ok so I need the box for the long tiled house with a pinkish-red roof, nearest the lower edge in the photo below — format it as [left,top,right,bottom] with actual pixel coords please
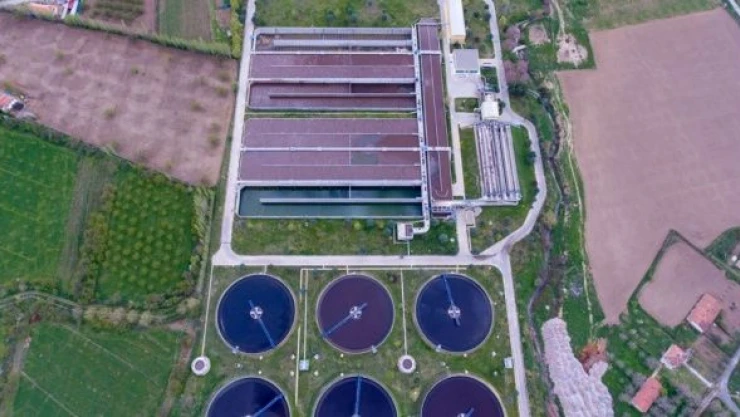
[632,377,664,412]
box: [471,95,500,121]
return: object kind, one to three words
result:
building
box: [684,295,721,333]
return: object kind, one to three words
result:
house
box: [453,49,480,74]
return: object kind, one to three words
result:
building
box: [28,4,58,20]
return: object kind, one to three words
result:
house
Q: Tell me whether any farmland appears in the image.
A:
Yes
